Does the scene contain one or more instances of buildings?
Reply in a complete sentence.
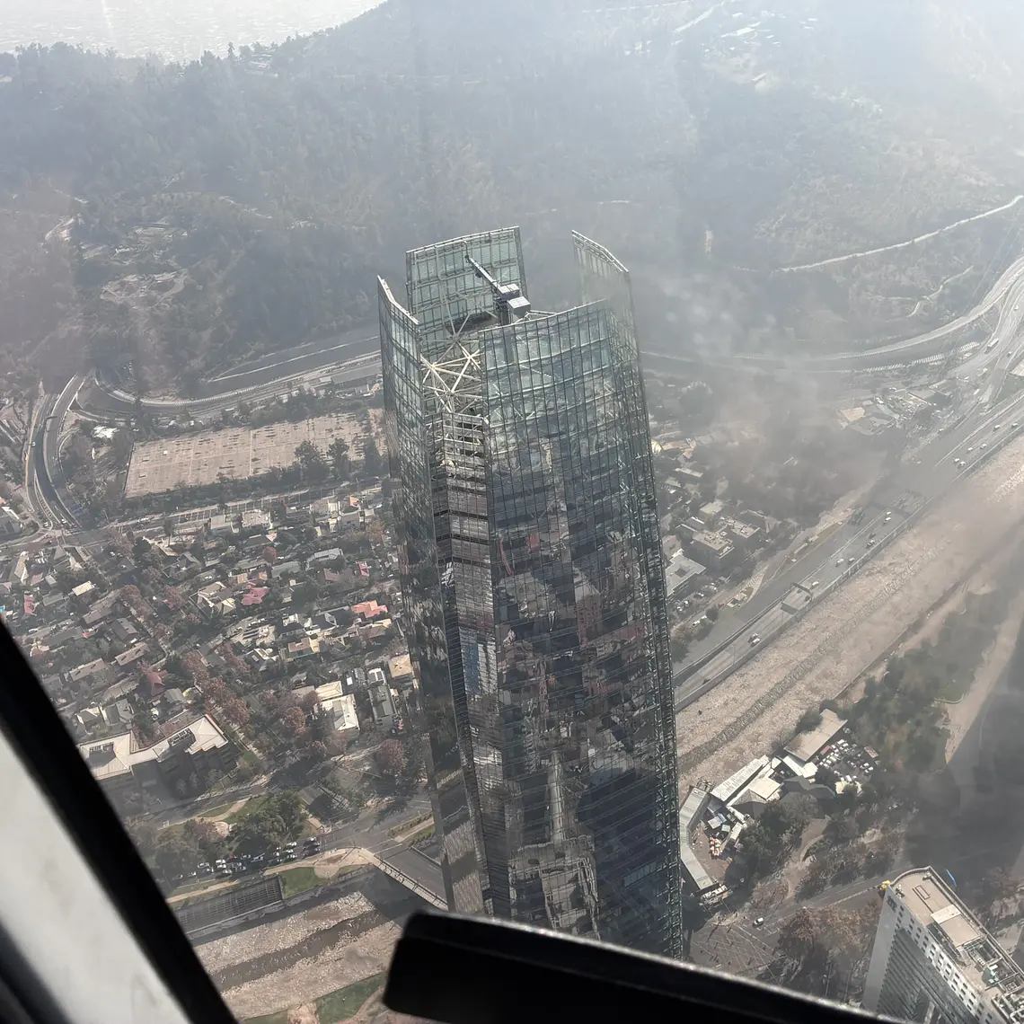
Yes, a building can be made out from above.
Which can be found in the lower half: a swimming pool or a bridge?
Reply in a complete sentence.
It is a bridge that can be seen in the lower half.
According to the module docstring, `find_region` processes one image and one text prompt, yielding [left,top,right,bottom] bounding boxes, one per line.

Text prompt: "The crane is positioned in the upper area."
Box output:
[463,256,555,375]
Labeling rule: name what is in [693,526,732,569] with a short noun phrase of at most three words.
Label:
building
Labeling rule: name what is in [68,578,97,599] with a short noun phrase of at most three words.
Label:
house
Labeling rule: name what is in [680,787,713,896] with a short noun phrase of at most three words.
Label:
building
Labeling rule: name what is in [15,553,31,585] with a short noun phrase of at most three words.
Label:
house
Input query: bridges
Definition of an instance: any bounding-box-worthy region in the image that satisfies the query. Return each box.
[378,845,450,917]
